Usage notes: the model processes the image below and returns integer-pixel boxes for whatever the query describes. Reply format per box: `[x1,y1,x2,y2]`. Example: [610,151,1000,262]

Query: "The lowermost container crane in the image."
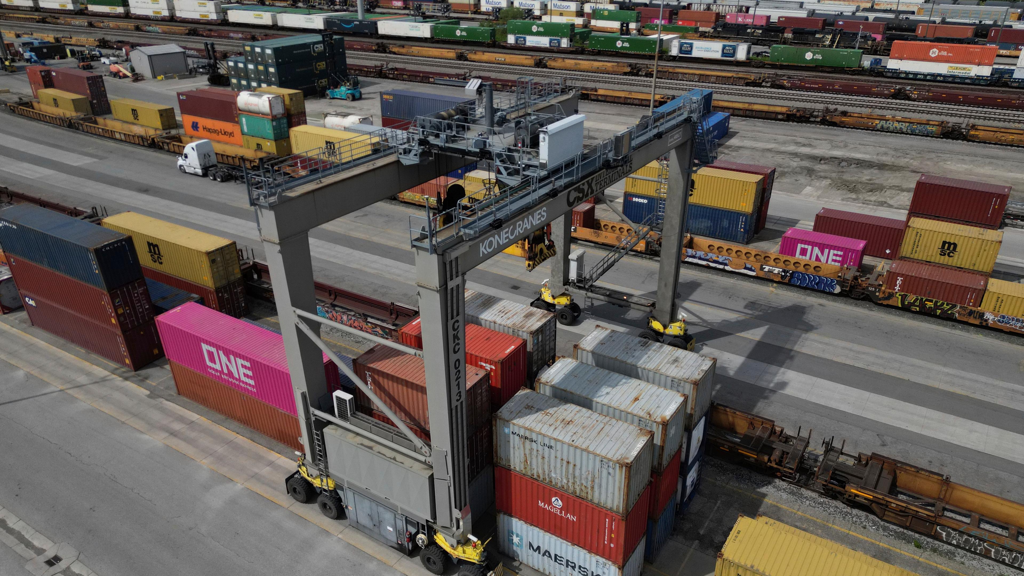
[221,69,728,576]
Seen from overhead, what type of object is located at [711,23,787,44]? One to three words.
rail car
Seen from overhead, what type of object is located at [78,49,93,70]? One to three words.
work vehicle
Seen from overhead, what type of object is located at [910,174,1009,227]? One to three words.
shipping container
